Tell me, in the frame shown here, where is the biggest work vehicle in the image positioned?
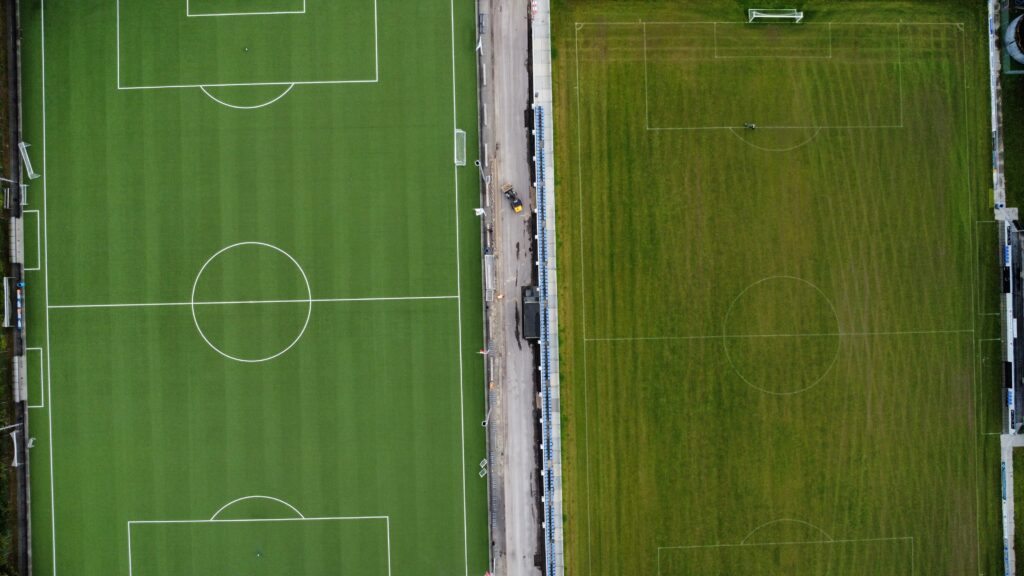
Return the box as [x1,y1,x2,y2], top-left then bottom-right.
[500,181,523,214]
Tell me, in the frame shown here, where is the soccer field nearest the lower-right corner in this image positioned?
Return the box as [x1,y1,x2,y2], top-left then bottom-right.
[549,0,1019,576]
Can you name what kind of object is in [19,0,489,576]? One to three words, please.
soccer field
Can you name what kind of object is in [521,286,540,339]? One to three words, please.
shed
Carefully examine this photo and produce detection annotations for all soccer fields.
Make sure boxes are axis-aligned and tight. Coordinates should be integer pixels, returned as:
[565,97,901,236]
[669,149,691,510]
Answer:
[19,0,489,576]
[549,0,1019,576]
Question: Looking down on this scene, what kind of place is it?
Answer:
sports ground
